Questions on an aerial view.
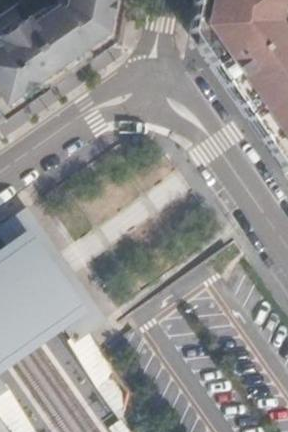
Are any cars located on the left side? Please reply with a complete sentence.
Yes, on the left side there is a car.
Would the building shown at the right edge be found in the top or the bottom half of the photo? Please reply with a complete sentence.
Seen from above, the building shown at the right edge lies in the top half of the view.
